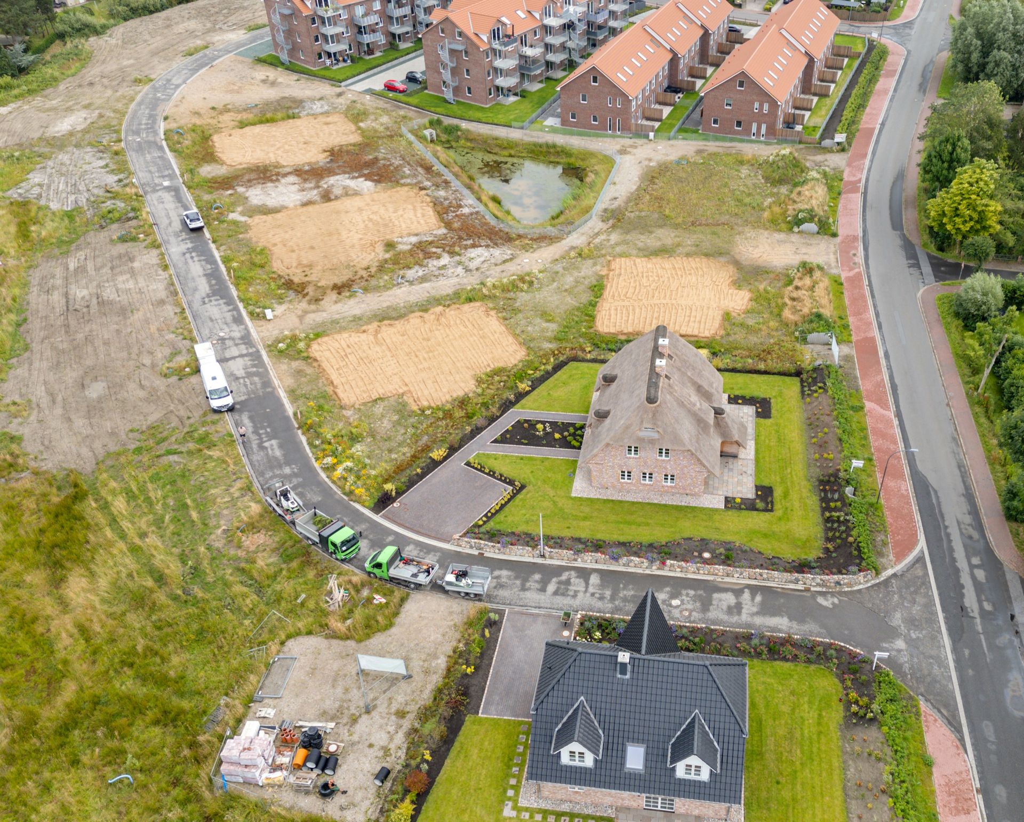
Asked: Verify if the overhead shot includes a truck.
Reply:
Yes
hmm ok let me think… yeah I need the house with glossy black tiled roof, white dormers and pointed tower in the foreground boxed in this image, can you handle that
[526,586,746,822]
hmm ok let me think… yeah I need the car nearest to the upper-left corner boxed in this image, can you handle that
[181,211,205,233]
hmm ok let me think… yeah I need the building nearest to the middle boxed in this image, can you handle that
[577,322,746,494]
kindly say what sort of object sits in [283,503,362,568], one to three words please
truck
